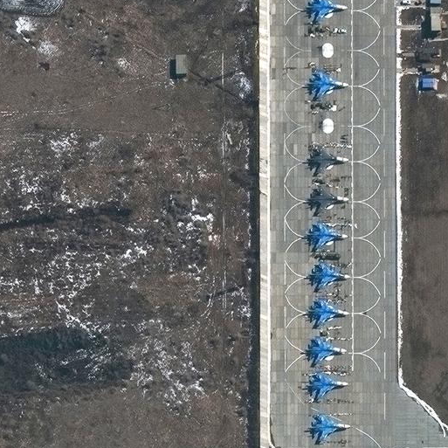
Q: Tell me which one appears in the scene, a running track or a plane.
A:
plane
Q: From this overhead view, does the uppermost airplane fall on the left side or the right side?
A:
right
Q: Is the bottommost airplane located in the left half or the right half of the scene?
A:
right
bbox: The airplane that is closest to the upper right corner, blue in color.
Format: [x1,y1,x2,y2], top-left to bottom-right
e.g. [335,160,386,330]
[305,0,347,21]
